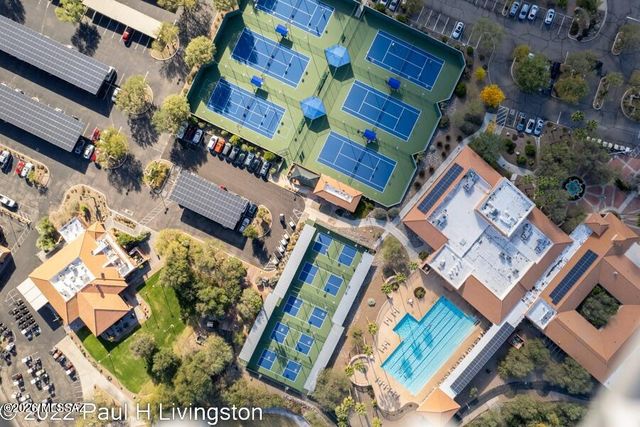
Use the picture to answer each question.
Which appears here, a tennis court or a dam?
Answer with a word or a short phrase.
tennis court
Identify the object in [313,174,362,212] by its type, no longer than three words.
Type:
building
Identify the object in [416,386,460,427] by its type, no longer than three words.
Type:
building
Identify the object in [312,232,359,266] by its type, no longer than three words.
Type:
sports court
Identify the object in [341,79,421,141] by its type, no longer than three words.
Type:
tennis court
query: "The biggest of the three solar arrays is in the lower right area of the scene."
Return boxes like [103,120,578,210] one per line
[450,322,514,395]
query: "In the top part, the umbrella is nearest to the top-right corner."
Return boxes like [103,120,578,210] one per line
[325,45,351,67]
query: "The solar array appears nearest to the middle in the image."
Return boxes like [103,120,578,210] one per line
[418,163,462,211]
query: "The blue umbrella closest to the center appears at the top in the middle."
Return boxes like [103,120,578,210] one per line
[301,96,327,118]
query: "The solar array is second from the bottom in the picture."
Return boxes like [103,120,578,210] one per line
[548,249,596,303]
